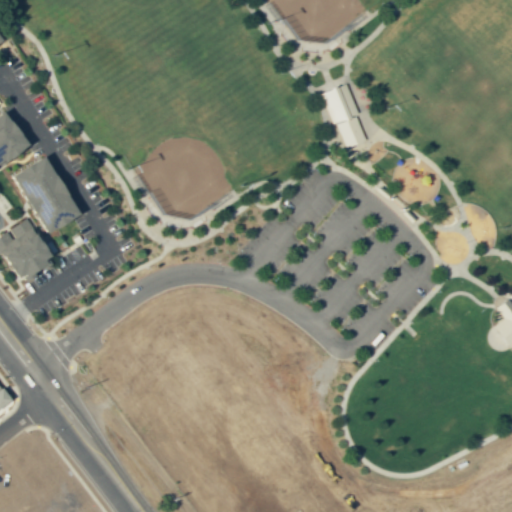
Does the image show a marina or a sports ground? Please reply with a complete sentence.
The area seen from above is a sports ground.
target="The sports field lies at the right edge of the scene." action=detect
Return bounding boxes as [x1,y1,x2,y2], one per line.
[349,0,512,255]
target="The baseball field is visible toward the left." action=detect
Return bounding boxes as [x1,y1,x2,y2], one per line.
[18,0,328,218]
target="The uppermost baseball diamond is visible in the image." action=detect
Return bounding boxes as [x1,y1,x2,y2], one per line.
[270,0,381,42]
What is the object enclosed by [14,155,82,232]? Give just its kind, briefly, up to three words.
building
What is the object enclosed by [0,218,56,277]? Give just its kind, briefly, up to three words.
building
